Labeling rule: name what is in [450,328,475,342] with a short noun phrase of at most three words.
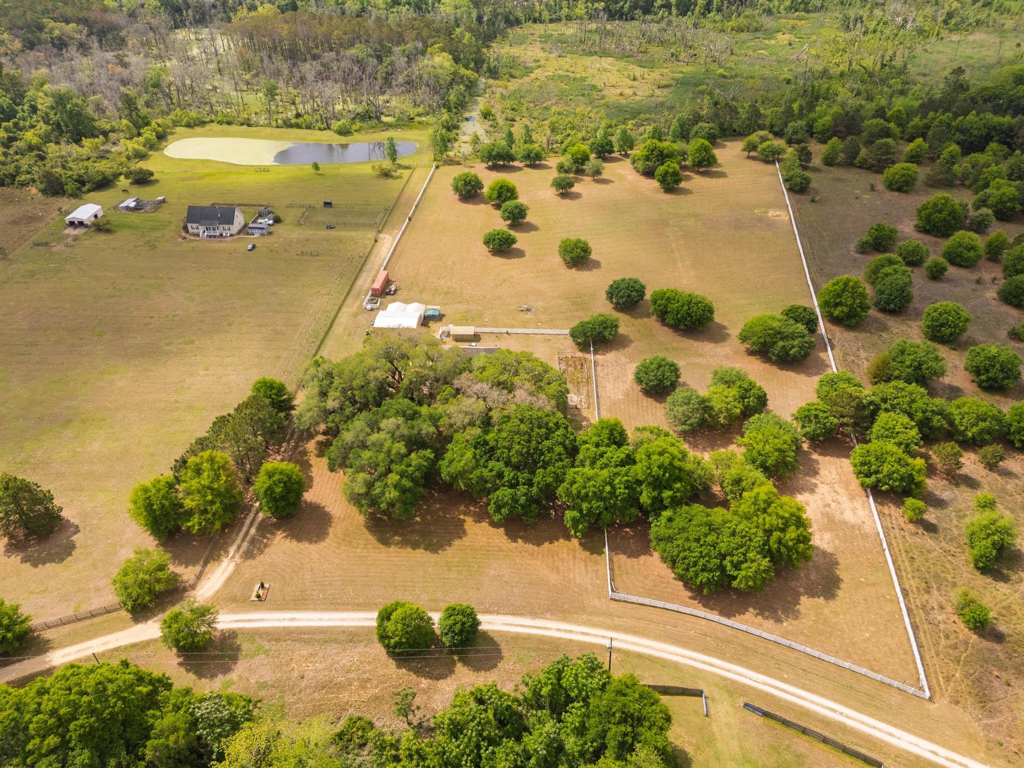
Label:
shed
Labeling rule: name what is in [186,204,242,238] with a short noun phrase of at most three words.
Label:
house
